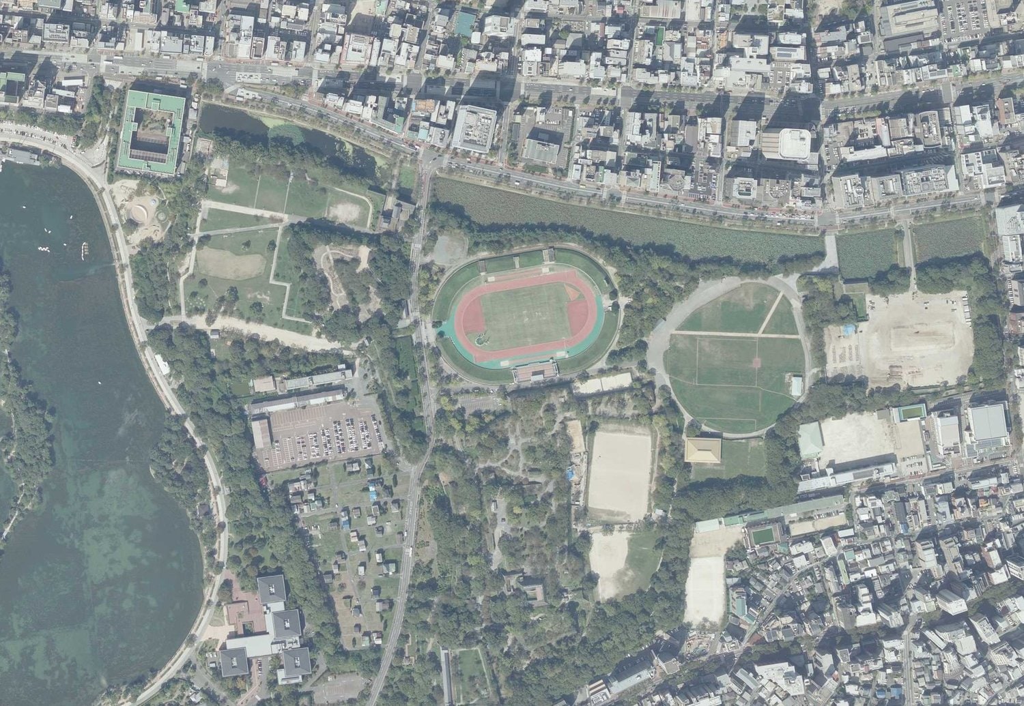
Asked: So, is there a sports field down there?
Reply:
Yes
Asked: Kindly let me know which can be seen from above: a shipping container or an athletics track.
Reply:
athletics track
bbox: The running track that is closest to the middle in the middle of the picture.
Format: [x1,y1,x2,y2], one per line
[430,248,622,384]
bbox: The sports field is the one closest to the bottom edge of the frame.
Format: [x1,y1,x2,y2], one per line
[590,525,663,600]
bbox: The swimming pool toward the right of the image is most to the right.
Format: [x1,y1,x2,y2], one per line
[892,403,926,423]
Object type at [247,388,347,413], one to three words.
shed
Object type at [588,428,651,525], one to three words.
sports field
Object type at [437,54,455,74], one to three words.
building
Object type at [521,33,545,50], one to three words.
building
